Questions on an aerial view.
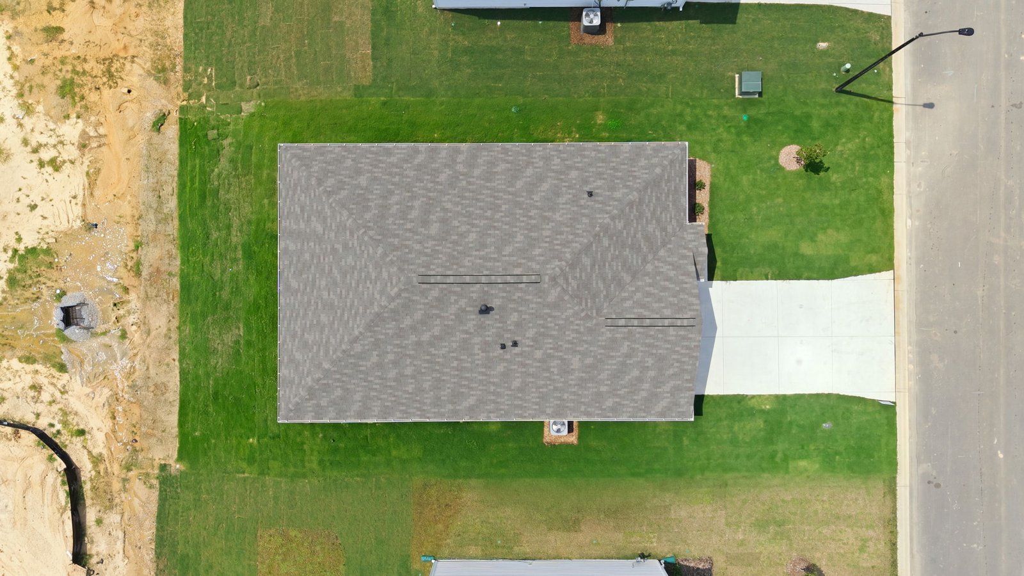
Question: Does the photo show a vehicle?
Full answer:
No, this view has no vehicle in it.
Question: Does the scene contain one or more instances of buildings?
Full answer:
Yes, this view includes a building.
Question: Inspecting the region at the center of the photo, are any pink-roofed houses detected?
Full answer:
No, at the center of the photo there is no pink-roofed house.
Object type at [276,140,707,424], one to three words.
house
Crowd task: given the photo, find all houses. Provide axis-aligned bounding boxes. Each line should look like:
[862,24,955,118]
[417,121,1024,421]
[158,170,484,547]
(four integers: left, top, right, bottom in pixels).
[431,0,686,13]
[428,556,670,576]
[276,140,707,424]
